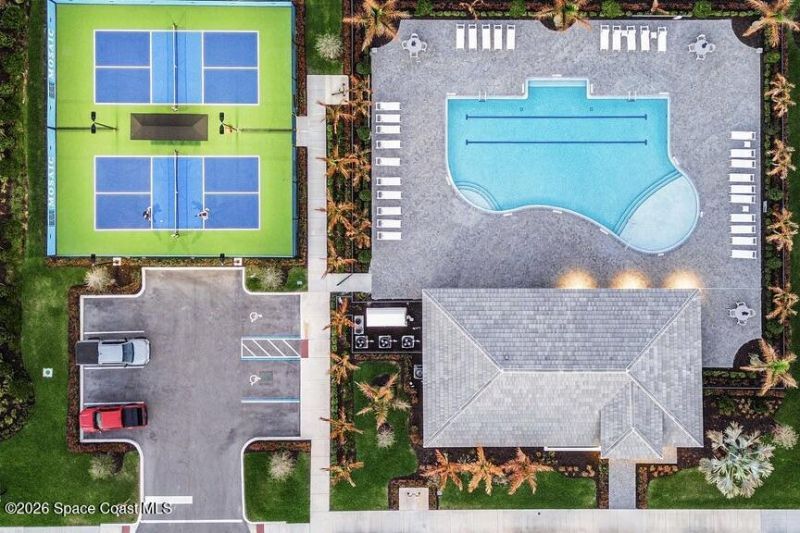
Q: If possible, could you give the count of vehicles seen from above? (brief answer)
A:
2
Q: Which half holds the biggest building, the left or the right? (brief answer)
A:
right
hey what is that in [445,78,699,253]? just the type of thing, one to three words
swimming pool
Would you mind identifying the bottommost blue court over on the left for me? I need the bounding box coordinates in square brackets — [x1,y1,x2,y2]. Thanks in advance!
[94,156,259,231]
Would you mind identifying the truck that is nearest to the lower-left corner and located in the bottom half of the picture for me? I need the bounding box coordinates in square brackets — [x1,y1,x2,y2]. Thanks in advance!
[79,405,149,435]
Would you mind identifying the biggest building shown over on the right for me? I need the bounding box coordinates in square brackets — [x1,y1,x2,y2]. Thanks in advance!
[422,288,705,460]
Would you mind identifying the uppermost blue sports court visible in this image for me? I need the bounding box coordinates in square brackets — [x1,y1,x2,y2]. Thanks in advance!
[94,30,259,104]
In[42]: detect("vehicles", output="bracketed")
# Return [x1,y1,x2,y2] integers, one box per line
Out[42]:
[79,405,149,435]
[76,338,151,368]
